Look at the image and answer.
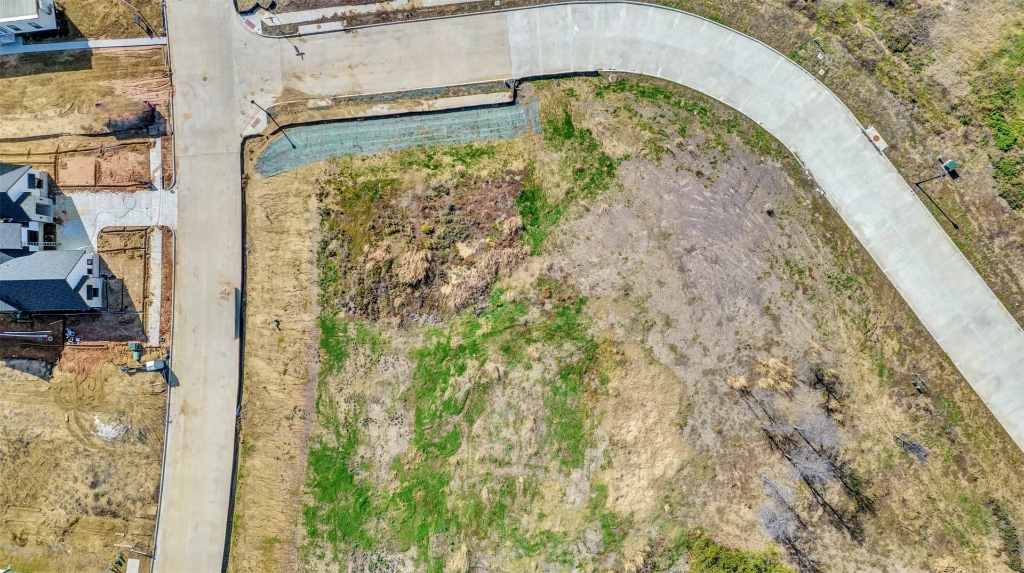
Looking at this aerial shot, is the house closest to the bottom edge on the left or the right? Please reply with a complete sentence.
The house closest to the bottom edge appears in the left half of the scene.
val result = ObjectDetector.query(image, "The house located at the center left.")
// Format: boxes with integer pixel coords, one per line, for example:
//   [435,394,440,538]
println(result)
[0,162,103,309]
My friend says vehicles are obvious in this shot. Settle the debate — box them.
[123,358,173,373]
